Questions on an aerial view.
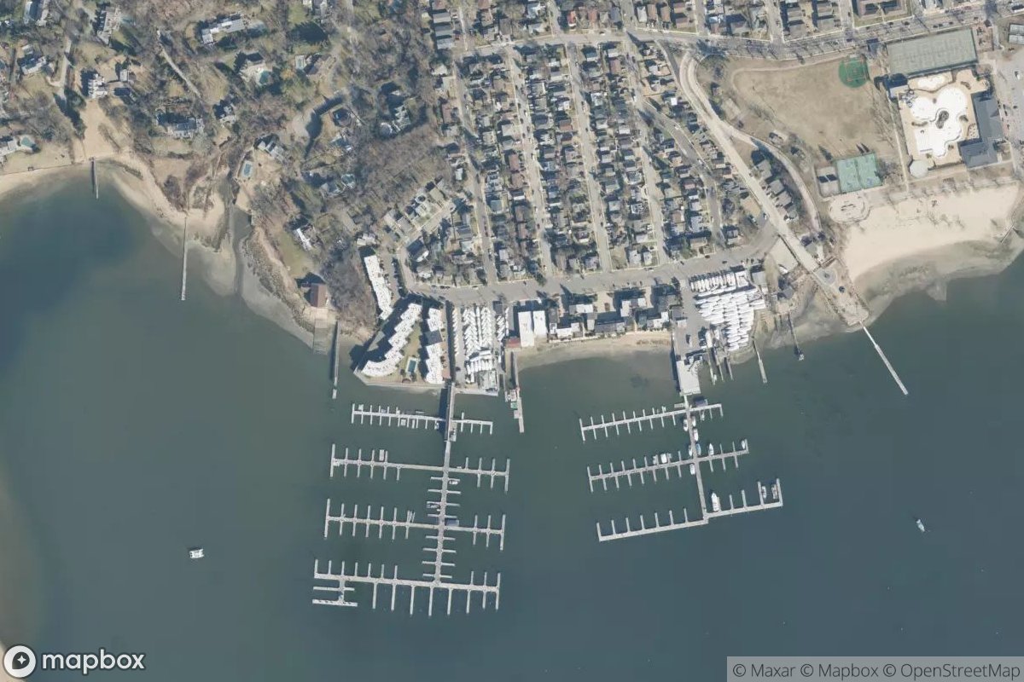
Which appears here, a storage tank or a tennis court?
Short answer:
tennis court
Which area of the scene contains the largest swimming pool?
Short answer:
top right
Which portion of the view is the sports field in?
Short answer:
top right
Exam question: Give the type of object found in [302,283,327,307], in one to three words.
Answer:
building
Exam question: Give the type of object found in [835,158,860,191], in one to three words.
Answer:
tennis court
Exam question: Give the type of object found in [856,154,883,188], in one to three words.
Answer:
tennis court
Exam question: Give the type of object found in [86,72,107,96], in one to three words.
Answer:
house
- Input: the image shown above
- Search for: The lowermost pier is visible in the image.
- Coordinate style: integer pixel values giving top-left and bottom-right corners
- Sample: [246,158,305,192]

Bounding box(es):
[313,559,500,616]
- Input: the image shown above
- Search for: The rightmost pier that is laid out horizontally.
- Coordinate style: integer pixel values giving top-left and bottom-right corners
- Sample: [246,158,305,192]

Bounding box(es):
[706,478,783,517]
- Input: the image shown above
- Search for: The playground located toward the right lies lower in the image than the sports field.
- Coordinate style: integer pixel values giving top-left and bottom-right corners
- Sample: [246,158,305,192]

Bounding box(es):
[827,192,869,223]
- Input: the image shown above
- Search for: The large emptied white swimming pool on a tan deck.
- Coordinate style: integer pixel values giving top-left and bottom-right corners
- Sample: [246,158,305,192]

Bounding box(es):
[897,69,989,170]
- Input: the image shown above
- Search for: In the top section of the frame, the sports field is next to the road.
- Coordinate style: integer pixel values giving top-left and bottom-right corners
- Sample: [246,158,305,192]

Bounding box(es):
[722,49,901,162]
